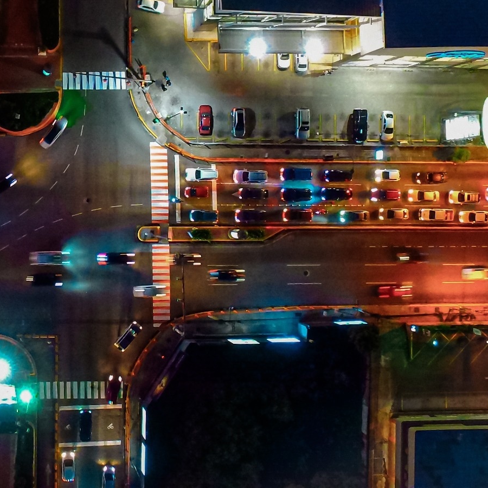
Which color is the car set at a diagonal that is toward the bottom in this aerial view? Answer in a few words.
black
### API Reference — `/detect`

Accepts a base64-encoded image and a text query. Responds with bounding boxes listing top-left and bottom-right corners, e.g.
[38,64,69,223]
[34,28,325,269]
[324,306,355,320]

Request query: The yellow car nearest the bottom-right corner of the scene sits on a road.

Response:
[459,267,488,282]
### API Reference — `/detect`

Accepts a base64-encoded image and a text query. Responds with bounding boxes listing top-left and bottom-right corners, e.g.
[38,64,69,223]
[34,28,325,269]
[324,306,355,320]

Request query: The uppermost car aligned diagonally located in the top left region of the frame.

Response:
[41,118,66,149]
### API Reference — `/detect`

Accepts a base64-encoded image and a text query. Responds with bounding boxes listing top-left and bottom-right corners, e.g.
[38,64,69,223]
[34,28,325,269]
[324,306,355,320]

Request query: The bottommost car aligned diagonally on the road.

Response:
[113,320,142,353]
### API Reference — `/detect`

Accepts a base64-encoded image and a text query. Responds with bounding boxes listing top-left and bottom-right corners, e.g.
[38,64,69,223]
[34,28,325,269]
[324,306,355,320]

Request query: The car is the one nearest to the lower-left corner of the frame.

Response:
[61,451,75,482]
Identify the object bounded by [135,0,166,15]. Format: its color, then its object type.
white car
